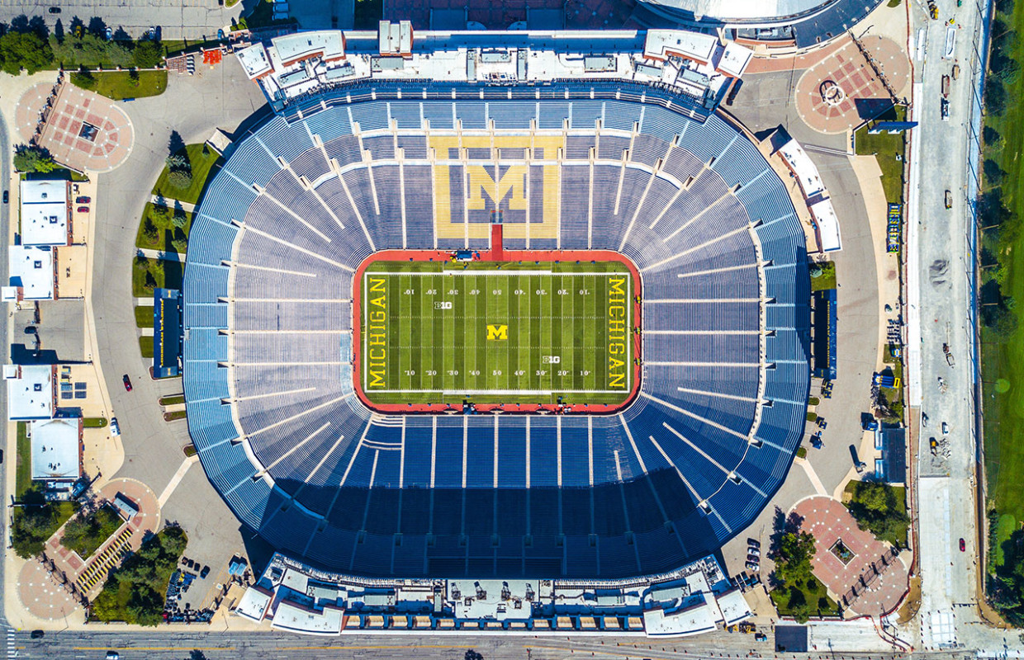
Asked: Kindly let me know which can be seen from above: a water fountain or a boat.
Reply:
water fountain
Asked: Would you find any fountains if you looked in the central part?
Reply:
No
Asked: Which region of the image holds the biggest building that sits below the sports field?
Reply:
bottom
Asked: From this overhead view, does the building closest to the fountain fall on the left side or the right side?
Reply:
left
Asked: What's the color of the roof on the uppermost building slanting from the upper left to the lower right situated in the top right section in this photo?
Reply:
white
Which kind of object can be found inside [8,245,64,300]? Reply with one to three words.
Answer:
building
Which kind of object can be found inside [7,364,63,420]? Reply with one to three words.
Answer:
building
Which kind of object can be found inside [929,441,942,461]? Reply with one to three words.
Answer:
vehicle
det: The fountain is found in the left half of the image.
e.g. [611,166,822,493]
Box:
[75,119,100,143]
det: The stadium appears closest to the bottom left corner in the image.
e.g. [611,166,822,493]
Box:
[183,100,811,576]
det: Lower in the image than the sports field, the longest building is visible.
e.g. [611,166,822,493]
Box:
[234,544,755,639]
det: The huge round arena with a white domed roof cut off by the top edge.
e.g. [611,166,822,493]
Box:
[595,0,906,61]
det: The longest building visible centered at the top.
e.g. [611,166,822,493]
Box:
[235,20,756,134]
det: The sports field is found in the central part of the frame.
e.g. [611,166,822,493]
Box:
[361,261,635,404]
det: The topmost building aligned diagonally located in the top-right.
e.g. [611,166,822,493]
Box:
[775,138,826,197]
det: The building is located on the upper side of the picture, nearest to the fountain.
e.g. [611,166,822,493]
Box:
[20,180,78,246]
